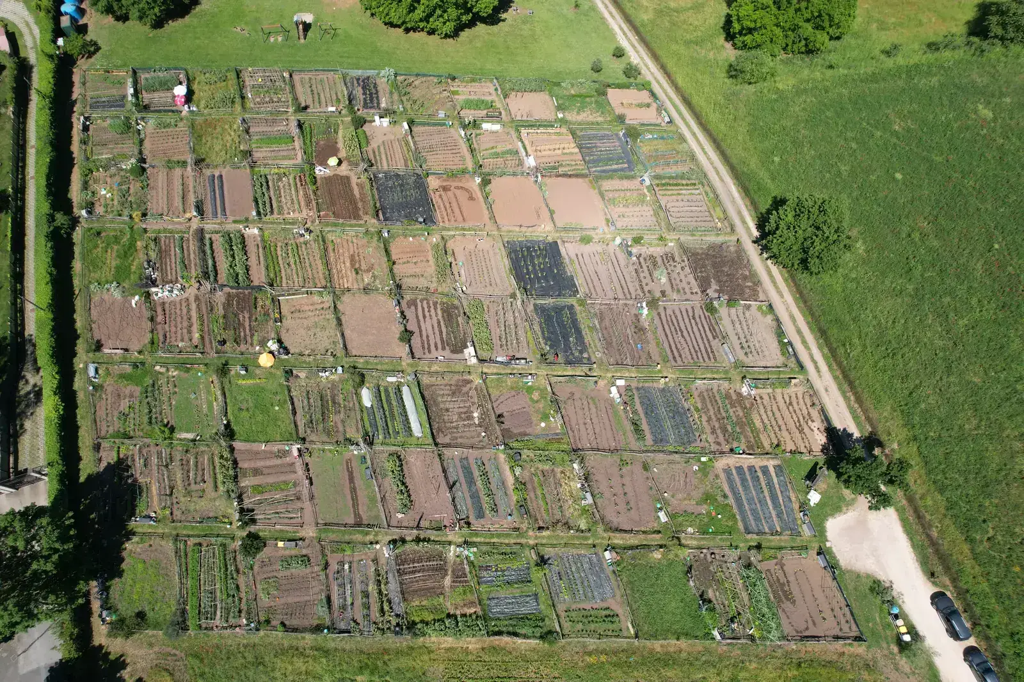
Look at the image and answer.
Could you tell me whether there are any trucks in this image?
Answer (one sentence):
No, no truck can be seen from above.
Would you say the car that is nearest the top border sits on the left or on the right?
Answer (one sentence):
The car that is nearest the top border sits on the right side.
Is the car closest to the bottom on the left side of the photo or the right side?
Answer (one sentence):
It is on the right.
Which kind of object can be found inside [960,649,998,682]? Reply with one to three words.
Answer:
car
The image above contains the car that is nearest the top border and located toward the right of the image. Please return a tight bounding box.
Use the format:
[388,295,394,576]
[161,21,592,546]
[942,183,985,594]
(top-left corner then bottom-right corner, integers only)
[927,591,970,641]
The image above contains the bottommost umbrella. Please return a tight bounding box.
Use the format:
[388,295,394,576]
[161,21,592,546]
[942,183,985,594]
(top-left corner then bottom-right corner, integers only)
[259,353,276,371]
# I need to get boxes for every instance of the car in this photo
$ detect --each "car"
[927,591,970,641]
[960,649,998,682]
